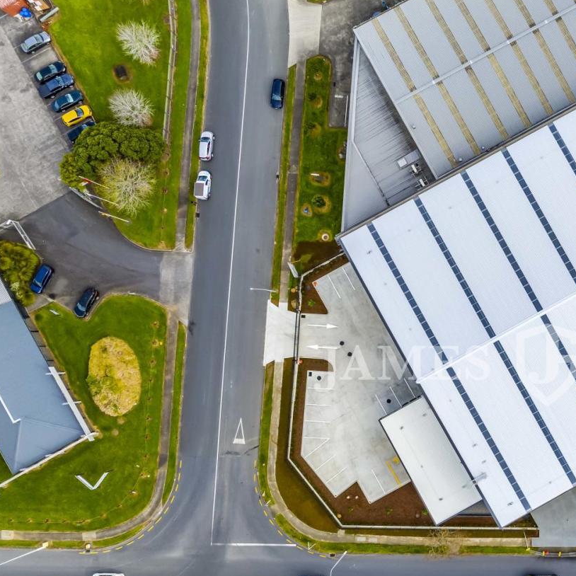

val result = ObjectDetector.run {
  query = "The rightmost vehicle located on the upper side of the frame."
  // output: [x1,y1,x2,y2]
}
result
[269,77,285,108]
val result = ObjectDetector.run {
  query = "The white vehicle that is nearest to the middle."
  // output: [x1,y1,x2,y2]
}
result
[195,169,211,201]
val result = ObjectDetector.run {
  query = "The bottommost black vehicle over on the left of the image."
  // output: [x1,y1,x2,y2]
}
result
[75,285,100,318]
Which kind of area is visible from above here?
industrial area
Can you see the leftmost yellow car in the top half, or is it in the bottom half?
top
